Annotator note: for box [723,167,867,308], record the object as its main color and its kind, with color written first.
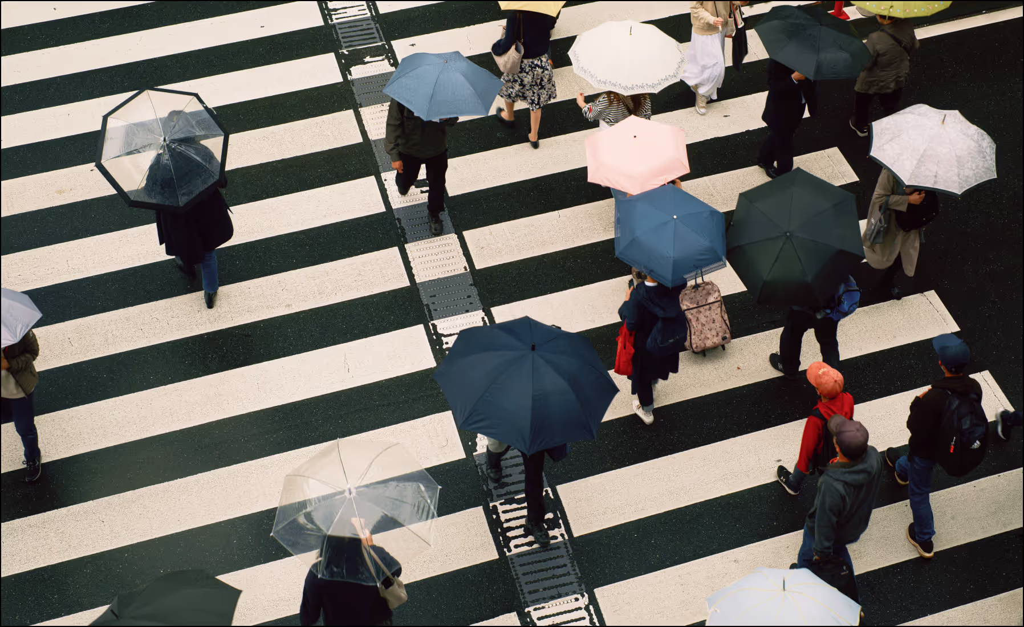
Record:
black umbrella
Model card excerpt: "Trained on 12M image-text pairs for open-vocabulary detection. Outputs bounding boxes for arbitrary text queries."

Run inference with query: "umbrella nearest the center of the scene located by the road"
[431,314,619,456]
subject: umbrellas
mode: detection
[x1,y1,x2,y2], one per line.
[754,6,874,90]
[431,314,619,456]
[0,288,45,346]
[500,0,562,17]
[95,86,231,213]
[82,568,241,627]
[614,182,727,287]
[852,0,949,31]
[870,102,999,207]
[723,167,867,308]
[568,18,687,95]
[381,50,504,133]
[695,563,870,627]
[583,115,688,196]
